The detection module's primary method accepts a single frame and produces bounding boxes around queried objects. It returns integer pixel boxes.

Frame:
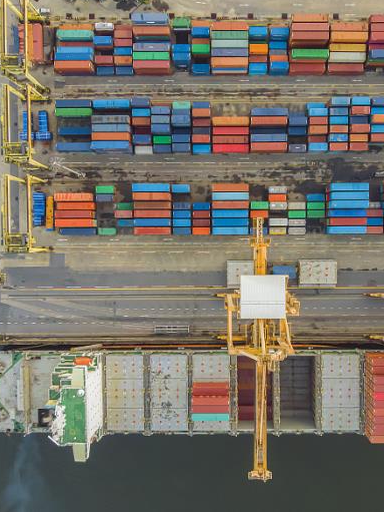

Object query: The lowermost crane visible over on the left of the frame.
[0,170,57,255]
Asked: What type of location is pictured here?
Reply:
port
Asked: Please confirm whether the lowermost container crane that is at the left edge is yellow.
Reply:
Yes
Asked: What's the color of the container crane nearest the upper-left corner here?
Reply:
yellow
